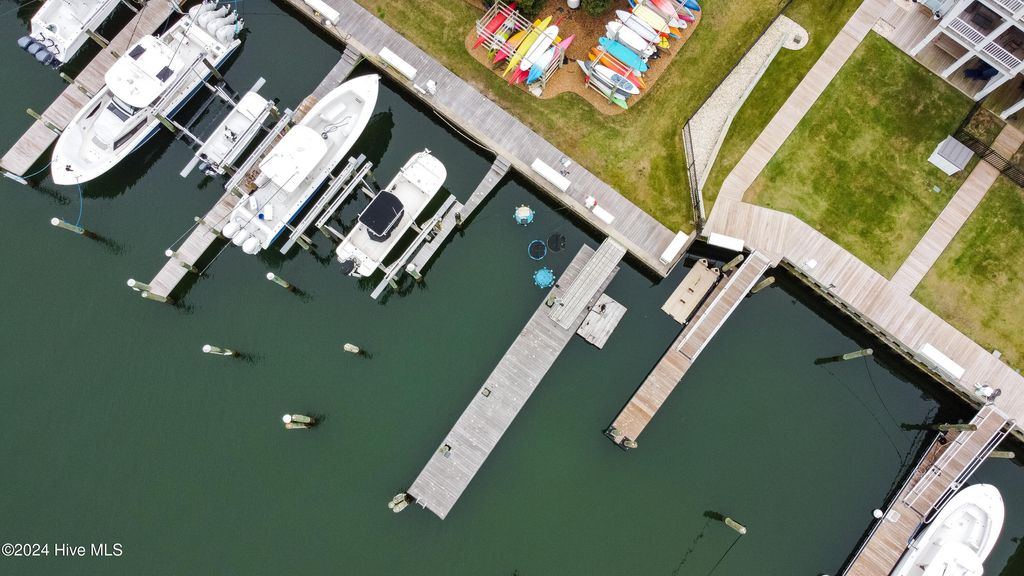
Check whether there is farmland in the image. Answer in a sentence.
No, there is no farmland in the image.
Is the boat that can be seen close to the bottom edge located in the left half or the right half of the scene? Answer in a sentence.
It is on the right.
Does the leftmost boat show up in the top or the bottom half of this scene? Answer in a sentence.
The leftmost boat is in the top half of the image.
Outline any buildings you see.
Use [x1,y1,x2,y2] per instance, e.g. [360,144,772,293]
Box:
[873,0,1024,137]
[928,133,979,175]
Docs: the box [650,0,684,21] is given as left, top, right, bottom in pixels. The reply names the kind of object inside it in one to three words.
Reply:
boat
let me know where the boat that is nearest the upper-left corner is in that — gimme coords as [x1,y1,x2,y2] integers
[16,0,139,81]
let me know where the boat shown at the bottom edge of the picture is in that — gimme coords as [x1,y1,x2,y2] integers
[893,483,1003,576]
